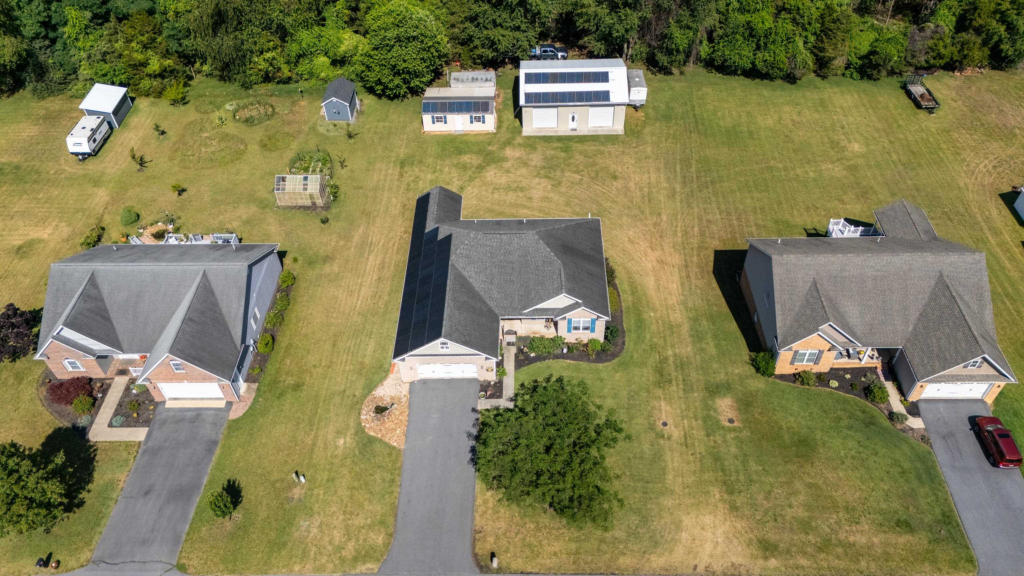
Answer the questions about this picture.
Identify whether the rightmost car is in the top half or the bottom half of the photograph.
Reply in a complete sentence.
The rightmost car is in the bottom half of the image.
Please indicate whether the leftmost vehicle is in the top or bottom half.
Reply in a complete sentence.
It is in the top half that the leftmost vehicle appears.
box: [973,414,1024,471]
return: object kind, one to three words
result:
car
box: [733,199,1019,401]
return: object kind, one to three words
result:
house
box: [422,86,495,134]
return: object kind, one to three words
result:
shed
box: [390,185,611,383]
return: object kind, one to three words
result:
house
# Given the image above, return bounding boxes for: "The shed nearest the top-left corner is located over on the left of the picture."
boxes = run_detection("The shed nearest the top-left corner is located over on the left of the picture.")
[79,83,132,128]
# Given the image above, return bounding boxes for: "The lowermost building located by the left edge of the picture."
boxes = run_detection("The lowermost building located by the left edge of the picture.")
[33,241,284,404]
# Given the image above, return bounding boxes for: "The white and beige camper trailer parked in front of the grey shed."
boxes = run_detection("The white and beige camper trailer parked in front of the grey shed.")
[66,117,111,164]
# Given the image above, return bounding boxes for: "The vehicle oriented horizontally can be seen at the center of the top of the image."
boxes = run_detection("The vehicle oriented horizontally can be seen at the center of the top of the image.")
[527,40,568,60]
